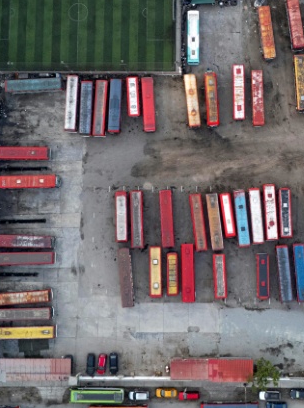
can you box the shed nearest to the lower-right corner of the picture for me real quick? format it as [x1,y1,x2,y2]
[170,355,253,382]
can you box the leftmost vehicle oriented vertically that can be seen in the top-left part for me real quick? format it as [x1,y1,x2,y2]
[63,76,81,133]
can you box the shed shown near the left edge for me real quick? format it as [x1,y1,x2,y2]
[0,353,74,382]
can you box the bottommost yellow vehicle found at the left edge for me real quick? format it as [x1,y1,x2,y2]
[0,322,59,339]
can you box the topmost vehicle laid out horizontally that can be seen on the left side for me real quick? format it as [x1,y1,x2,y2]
[5,78,65,94]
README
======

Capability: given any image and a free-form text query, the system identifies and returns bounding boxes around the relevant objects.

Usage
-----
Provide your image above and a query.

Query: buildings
[0,353,74,382]
[170,355,253,382]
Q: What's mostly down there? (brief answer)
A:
paved ground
